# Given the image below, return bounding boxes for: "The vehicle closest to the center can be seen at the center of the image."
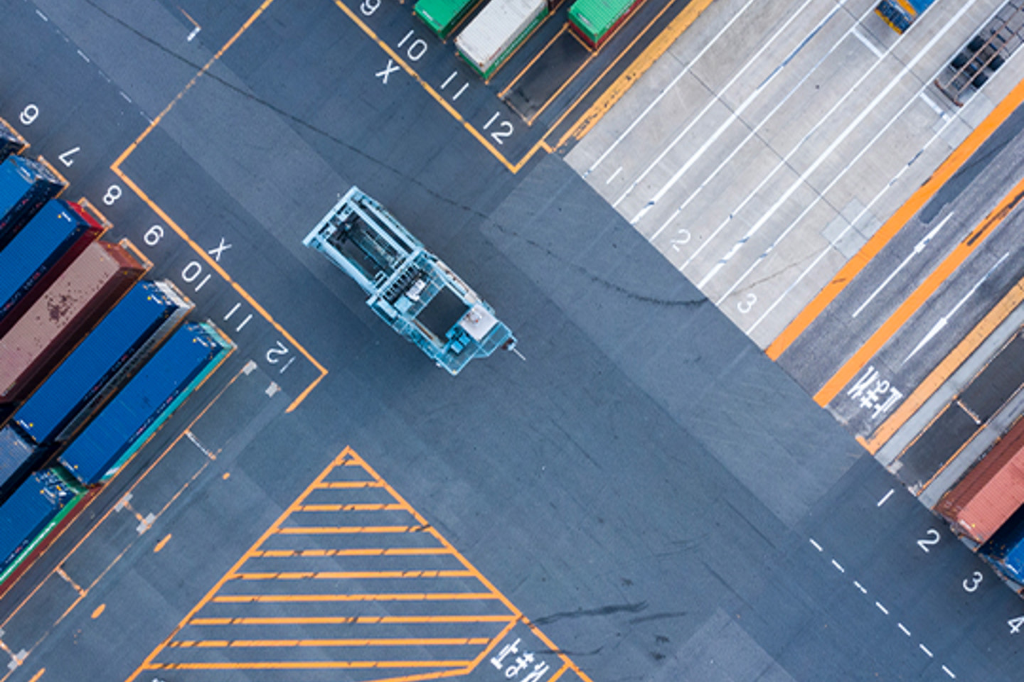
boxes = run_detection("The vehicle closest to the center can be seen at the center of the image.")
[302,187,526,376]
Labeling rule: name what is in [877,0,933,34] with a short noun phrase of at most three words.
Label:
truck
